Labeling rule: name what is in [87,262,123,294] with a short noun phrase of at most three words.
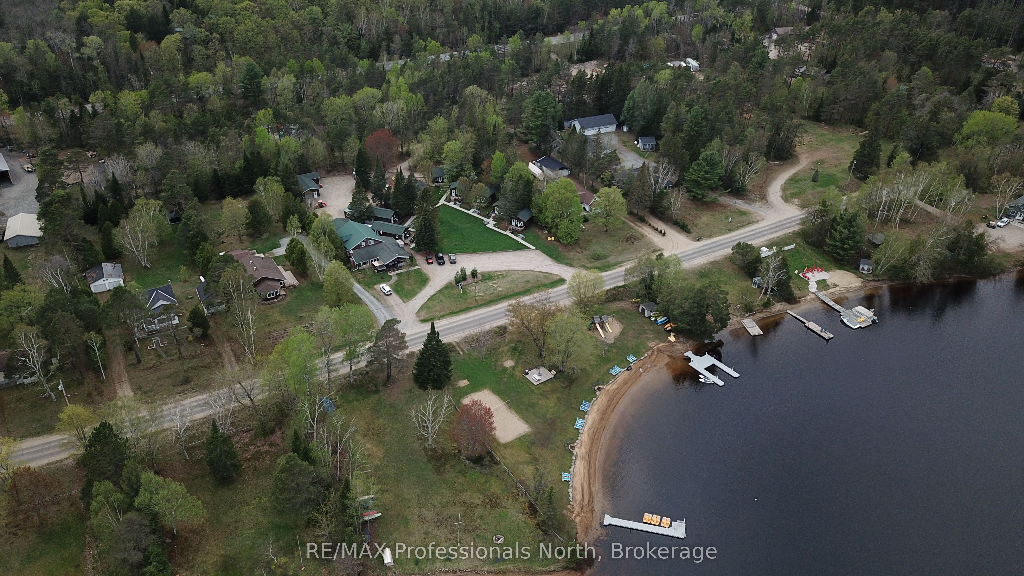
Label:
building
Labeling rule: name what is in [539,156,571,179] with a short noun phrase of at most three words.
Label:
building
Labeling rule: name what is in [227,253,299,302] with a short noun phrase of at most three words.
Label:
house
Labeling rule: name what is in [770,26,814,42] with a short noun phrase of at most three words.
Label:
barn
